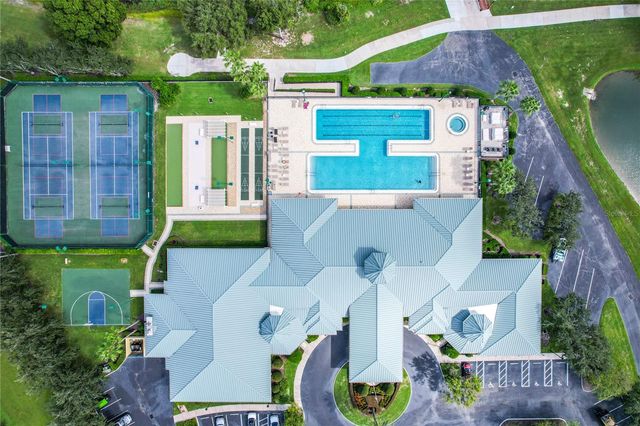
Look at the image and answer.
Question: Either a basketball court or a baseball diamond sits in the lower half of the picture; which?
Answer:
basketball court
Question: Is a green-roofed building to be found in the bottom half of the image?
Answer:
No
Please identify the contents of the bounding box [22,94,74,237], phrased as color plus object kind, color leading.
blue tennis court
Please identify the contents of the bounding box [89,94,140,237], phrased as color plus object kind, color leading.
blue tennis court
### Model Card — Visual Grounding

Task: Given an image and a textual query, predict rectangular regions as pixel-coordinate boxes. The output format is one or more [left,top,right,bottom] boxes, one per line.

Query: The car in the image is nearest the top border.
[553,240,569,265]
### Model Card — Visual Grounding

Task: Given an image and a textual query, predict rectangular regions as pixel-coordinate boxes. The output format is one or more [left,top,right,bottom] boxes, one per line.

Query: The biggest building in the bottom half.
[144,198,542,402]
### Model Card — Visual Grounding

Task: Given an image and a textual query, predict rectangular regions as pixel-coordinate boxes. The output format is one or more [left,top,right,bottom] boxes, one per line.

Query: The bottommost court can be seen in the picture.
[62,269,130,325]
